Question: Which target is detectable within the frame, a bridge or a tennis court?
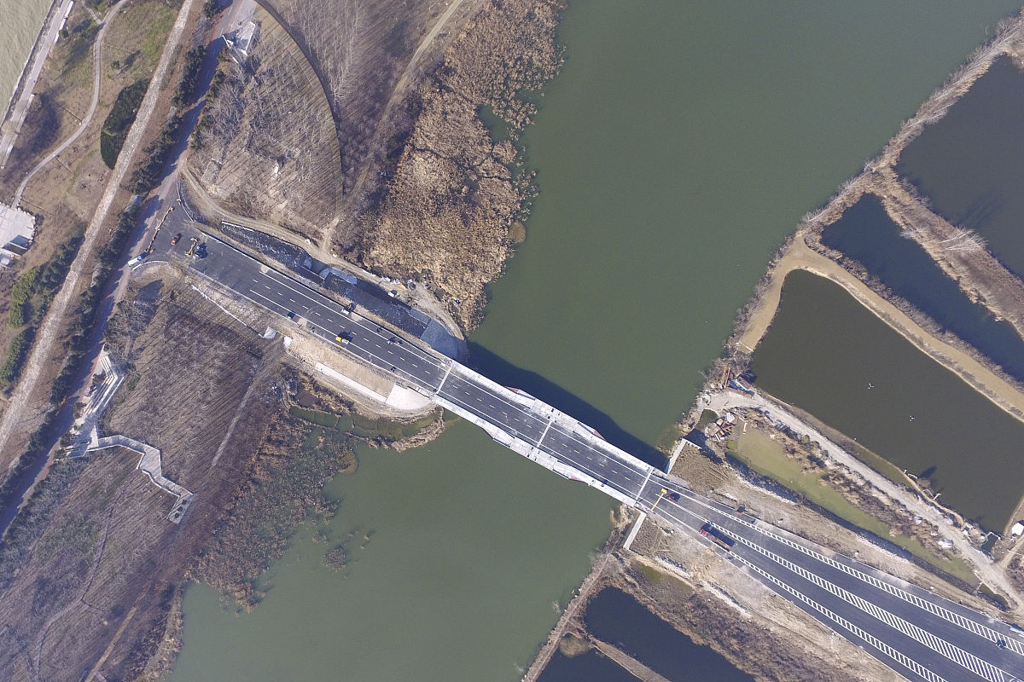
bridge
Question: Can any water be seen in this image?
Yes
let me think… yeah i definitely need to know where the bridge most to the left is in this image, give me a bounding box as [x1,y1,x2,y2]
[428,358,655,508]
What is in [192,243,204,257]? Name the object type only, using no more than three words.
vehicle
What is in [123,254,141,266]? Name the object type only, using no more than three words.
vehicle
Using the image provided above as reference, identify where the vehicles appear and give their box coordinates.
[996,640,1008,649]
[170,233,180,245]
[333,335,348,345]
[701,528,736,550]
[340,307,350,315]
[395,340,403,347]
[385,338,395,346]
[667,492,679,501]
[192,243,204,257]
[123,254,141,266]
[734,510,744,517]
[284,312,295,320]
